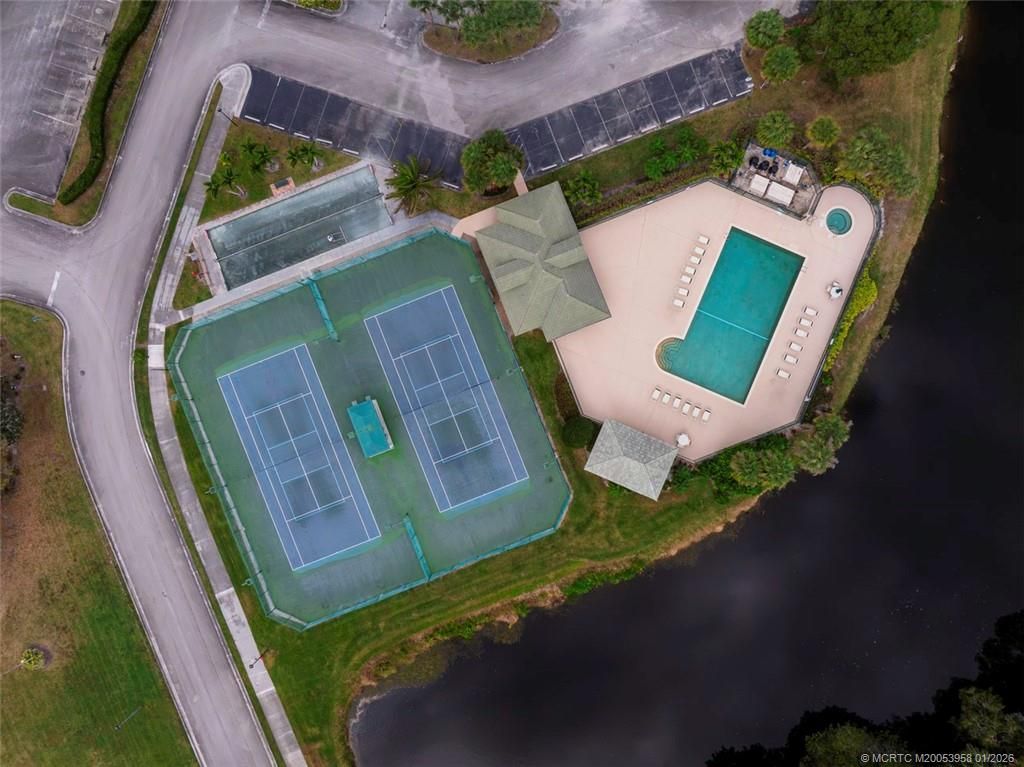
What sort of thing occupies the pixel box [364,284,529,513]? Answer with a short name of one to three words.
tennis court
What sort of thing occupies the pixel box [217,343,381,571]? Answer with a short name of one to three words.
tennis court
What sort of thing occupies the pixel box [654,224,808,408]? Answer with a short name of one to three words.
swimming pool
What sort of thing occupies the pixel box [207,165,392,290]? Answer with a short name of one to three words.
sports court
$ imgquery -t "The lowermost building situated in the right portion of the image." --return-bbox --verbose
[584,418,679,501]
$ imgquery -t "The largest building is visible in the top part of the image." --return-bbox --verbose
[474,181,611,341]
